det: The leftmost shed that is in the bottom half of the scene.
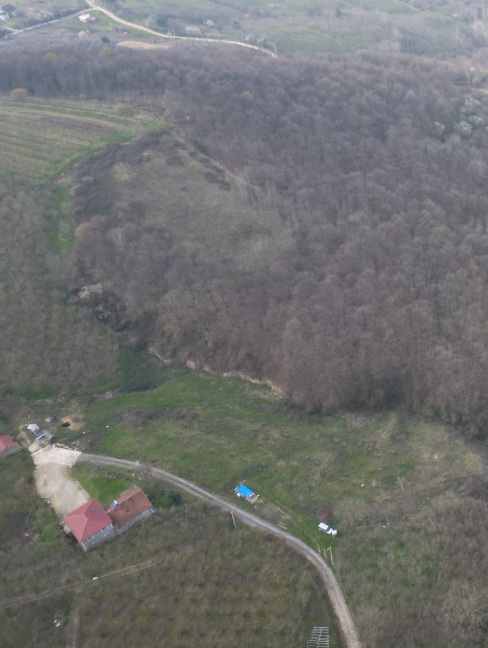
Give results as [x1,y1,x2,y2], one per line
[0,435,21,461]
